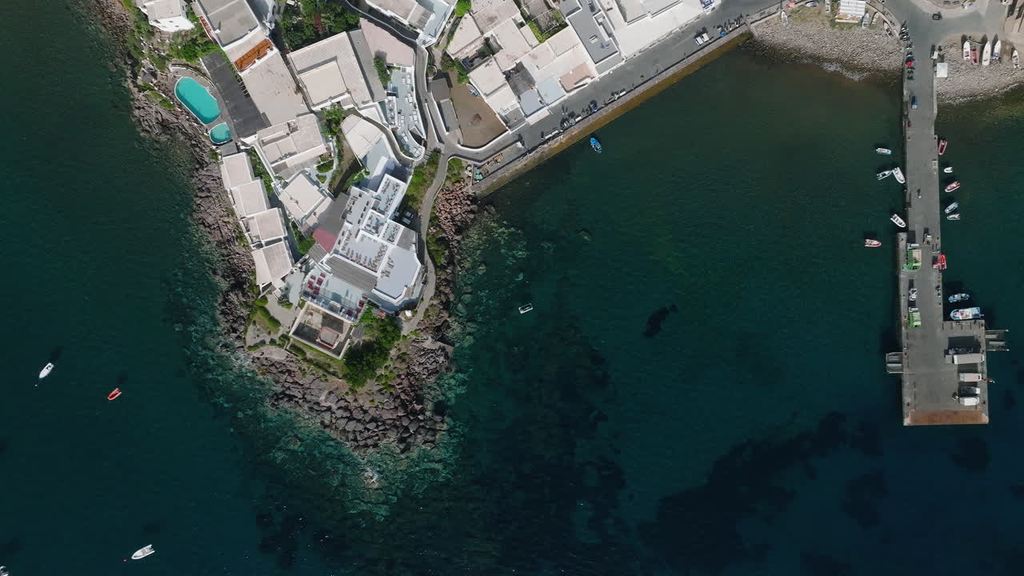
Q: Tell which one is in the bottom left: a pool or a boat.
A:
boat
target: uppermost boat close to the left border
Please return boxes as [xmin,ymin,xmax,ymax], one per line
[38,362,55,378]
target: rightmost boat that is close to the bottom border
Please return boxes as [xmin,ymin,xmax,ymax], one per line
[131,543,157,560]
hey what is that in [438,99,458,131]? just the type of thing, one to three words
shed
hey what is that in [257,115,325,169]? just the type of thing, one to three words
house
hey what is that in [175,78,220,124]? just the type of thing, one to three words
swimming pool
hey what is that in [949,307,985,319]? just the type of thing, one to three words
boat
